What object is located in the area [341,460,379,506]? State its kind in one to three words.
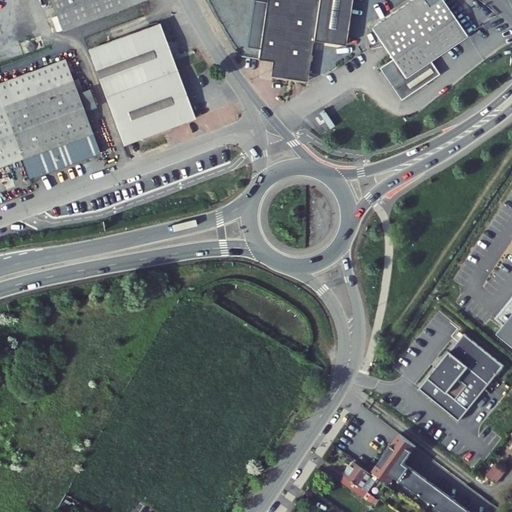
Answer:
house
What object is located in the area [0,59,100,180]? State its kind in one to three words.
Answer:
building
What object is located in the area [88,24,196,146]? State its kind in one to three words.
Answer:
building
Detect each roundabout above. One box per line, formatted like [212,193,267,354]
[240,158,359,276]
